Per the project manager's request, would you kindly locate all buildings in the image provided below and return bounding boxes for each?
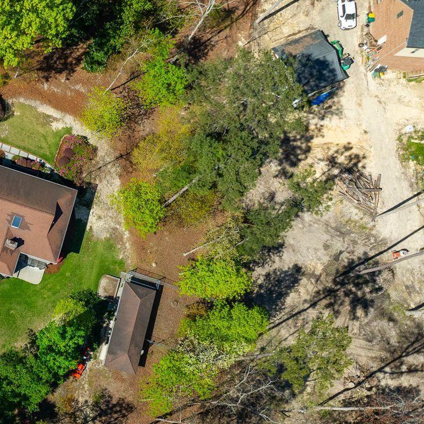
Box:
[0,165,78,278]
[263,30,347,101]
[369,0,424,72]
[101,282,156,376]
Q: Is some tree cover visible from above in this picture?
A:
Yes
